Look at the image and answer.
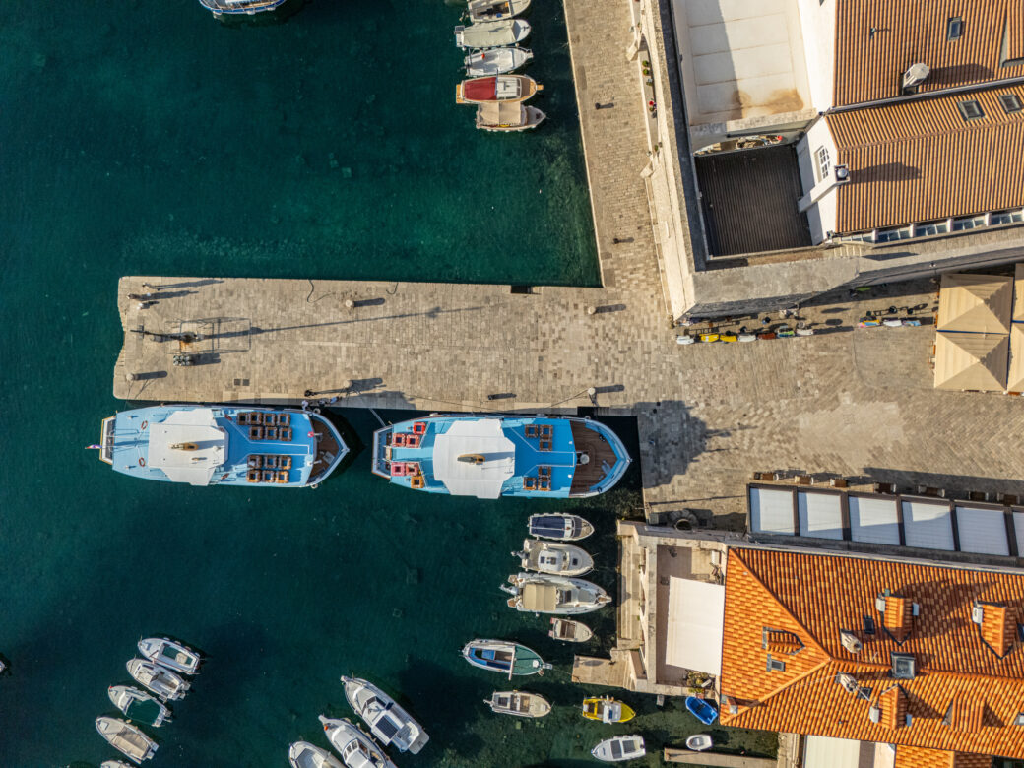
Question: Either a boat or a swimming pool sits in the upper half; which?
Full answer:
Visible in the upper half is a boat.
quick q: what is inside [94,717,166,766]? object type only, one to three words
boat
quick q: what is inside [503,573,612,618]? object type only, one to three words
boat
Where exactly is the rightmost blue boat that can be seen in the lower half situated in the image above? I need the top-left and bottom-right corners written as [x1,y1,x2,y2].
[688,697,718,726]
